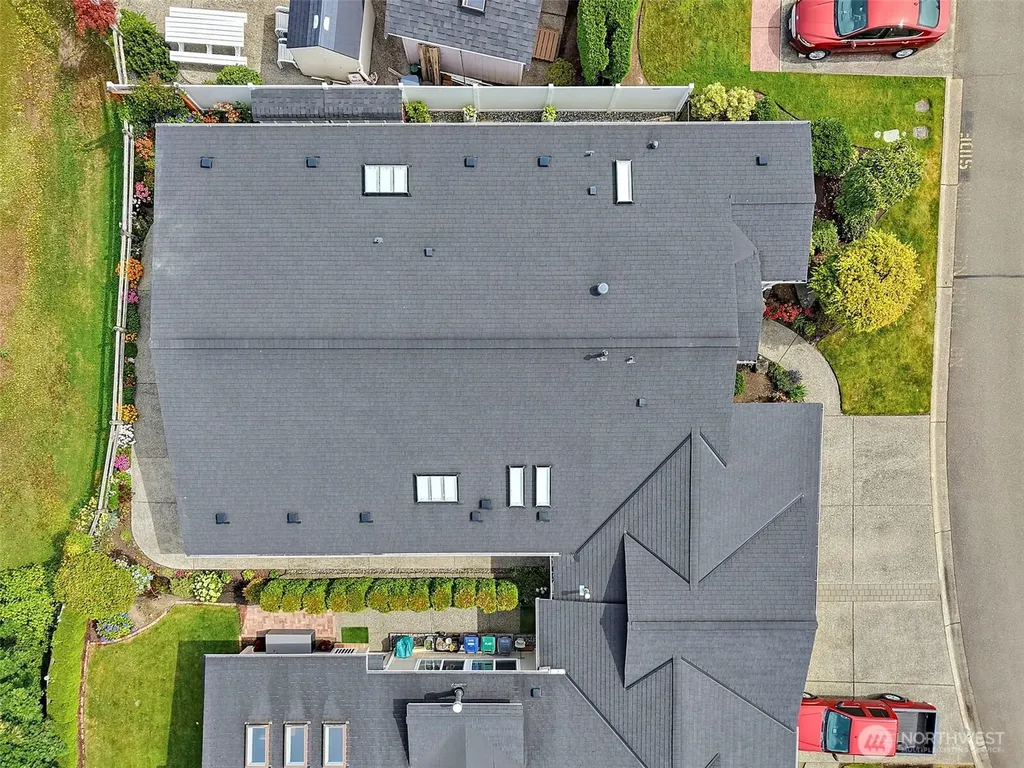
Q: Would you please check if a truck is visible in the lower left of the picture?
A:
No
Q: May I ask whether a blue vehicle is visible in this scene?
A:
No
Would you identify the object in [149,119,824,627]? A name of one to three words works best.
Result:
house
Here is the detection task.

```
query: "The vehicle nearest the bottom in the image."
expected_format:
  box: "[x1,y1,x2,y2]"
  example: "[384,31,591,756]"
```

[799,696,939,759]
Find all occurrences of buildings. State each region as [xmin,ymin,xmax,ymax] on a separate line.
[386,0,539,86]
[149,119,824,627]
[287,0,370,86]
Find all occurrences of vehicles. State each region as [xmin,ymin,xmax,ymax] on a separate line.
[799,696,939,759]
[783,0,952,59]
